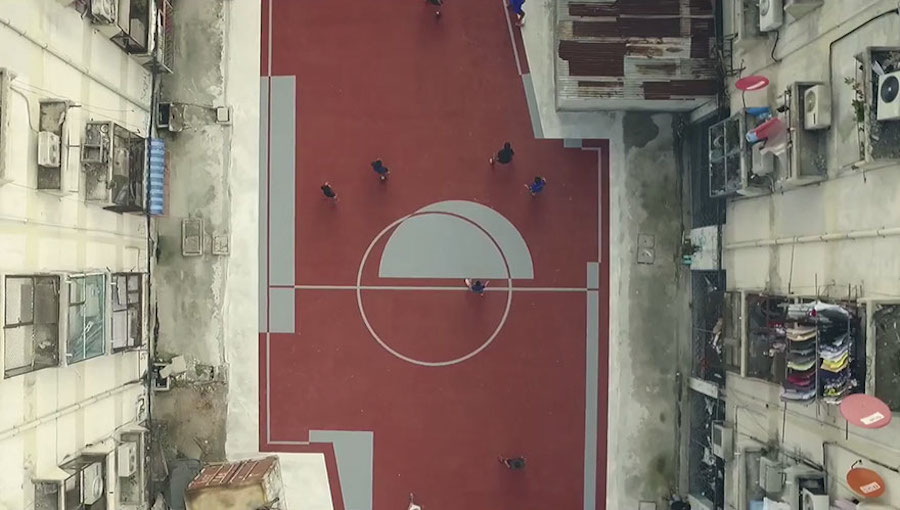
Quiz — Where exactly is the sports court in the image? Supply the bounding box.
[258,0,610,510]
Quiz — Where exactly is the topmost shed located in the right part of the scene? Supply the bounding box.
[556,0,720,114]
